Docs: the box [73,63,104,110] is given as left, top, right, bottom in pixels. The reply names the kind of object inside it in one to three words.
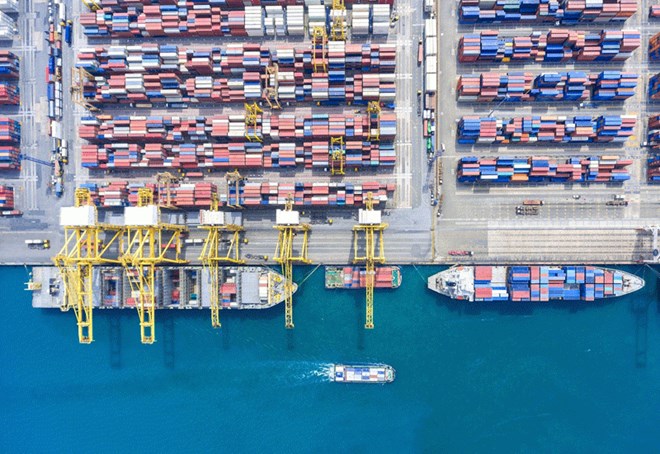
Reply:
container crane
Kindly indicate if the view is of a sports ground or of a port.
port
